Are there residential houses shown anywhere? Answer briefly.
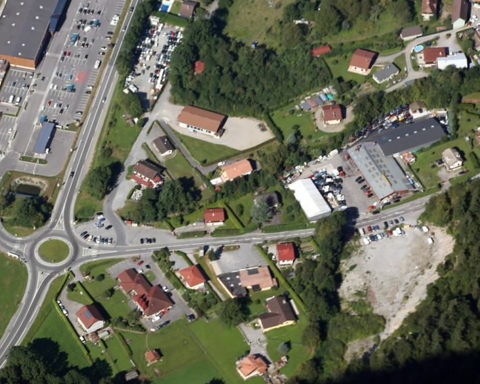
Yes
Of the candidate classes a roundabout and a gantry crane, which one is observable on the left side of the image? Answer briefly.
roundabout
